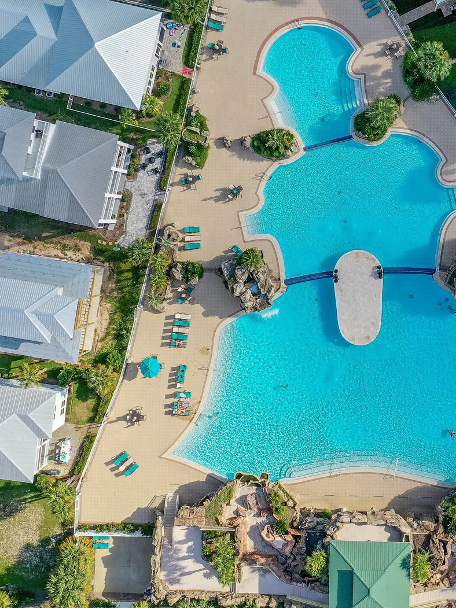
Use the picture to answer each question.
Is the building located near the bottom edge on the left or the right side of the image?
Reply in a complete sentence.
It is on the right.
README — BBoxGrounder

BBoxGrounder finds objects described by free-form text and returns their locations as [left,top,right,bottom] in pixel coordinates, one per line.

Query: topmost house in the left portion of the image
[0,0,165,111]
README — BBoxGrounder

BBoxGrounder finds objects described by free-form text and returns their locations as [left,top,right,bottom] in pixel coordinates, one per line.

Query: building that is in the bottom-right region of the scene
[328,540,411,608]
